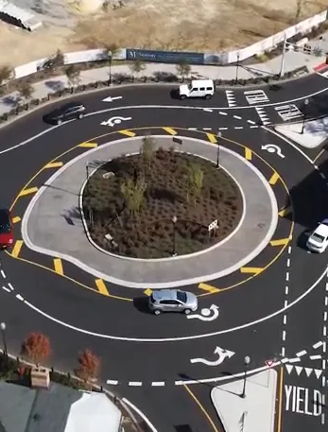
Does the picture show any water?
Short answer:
No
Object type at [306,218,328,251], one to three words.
car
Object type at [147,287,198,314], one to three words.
car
